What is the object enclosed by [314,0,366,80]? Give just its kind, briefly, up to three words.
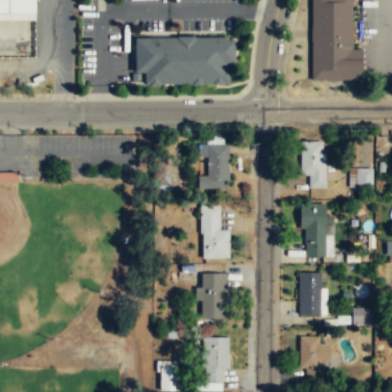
building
